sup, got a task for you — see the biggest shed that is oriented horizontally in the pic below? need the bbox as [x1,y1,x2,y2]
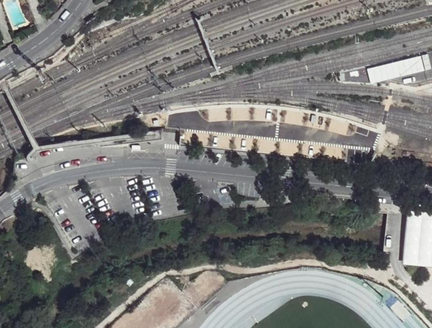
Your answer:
[367,56,426,84]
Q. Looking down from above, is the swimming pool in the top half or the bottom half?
top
